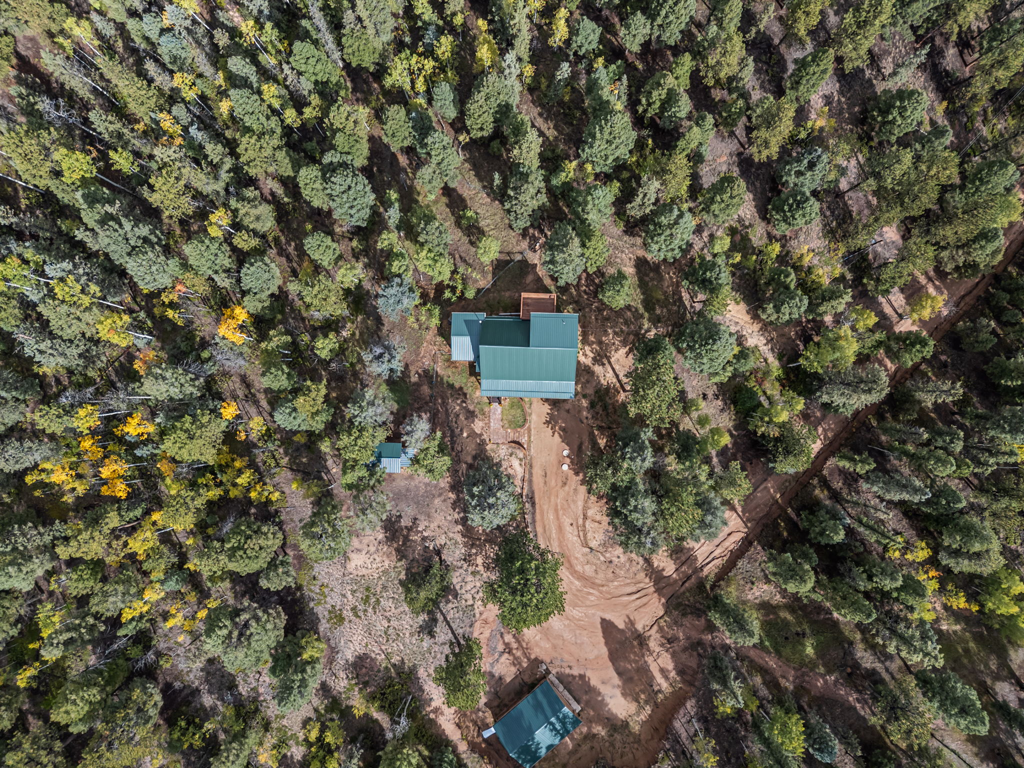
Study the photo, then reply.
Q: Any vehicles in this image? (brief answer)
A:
No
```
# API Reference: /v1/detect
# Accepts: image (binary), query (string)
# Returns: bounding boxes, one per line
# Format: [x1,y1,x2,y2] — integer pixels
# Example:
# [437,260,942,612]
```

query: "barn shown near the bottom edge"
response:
[482,674,583,768]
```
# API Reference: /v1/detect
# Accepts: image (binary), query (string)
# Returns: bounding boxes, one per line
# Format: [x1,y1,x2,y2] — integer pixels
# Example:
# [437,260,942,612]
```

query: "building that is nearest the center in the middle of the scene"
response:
[451,293,579,400]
